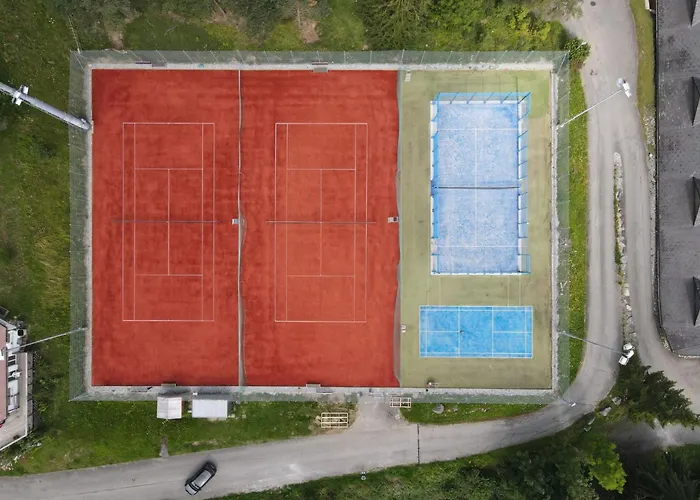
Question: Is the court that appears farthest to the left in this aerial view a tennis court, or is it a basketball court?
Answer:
tennis court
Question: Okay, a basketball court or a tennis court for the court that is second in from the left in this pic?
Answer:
tennis court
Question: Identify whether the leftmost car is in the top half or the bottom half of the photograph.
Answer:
bottom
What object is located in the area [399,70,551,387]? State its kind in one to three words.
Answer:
sports court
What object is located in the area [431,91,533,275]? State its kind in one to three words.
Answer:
sports court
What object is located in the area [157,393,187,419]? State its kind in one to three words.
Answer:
shed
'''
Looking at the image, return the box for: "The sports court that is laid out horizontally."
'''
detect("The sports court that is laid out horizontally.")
[420,306,533,358]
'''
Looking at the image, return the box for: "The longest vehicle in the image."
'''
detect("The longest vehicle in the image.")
[185,460,218,495]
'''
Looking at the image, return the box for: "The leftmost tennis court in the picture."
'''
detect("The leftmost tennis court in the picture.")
[92,70,241,387]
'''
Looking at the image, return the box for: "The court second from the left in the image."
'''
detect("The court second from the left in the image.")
[241,70,399,387]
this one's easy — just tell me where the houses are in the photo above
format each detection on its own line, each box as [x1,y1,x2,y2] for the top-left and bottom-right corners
[0,317,36,449]
[655,0,700,358]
